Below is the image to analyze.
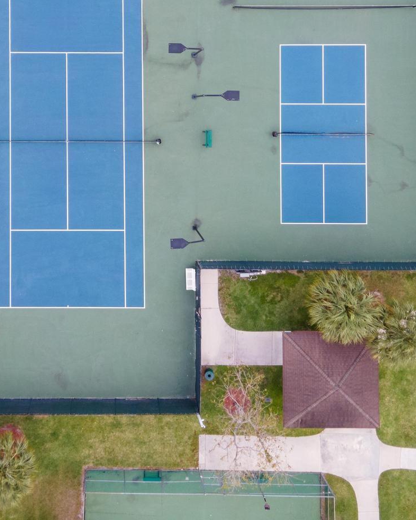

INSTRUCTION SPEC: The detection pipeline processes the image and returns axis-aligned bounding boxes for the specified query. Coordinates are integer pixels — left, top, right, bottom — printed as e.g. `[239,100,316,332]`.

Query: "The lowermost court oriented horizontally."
[83,471,323,520]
